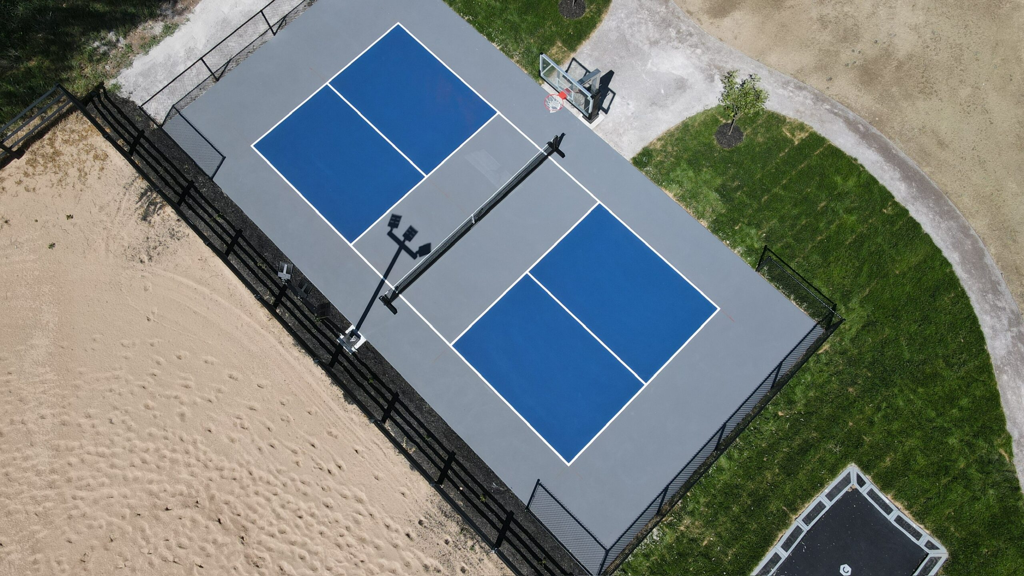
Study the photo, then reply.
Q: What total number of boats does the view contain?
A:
0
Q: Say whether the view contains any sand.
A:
Yes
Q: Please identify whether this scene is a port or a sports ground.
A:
sports ground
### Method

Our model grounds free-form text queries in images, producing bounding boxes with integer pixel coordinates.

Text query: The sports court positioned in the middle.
[161,0,821,576]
